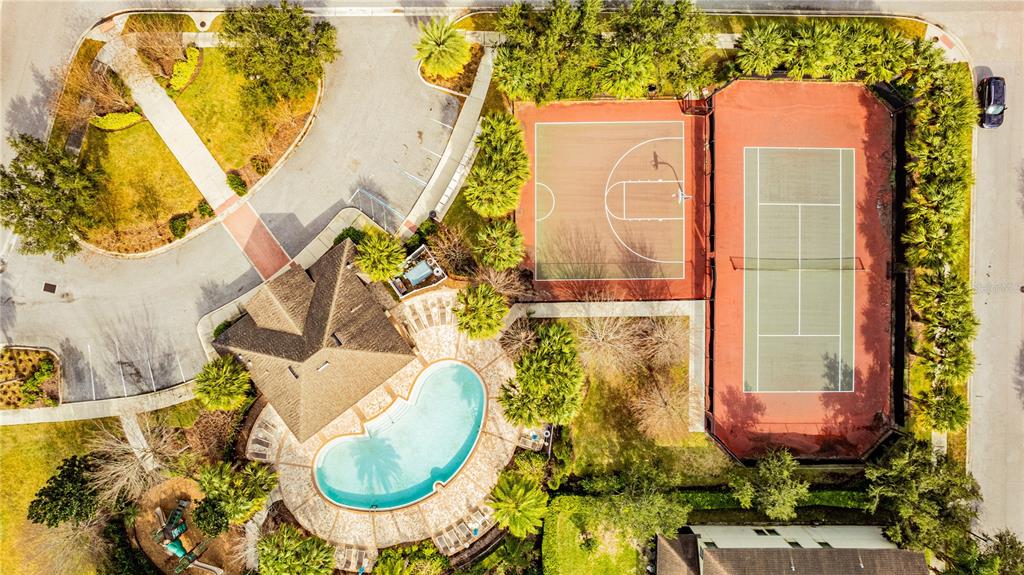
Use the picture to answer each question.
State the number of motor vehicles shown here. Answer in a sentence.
I count just 1 motor vehicle.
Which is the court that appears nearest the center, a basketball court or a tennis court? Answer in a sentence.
The court that appears nearest the center appears to be a basketball court.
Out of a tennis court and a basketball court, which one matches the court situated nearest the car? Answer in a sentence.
I'd identify the court situated nearest the car as a tennis court.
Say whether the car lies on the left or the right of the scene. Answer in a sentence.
The car appears in the right half of the scene.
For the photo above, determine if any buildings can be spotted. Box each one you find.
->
[212,238,416,442]
[651,524,937,575]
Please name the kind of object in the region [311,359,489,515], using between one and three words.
swimming pool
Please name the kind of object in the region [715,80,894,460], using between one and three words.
tennis court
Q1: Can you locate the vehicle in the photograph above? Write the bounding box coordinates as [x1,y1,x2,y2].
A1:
[977,78,1005,128]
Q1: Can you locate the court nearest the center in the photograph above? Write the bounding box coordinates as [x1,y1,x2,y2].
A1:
[516,97,709,300]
